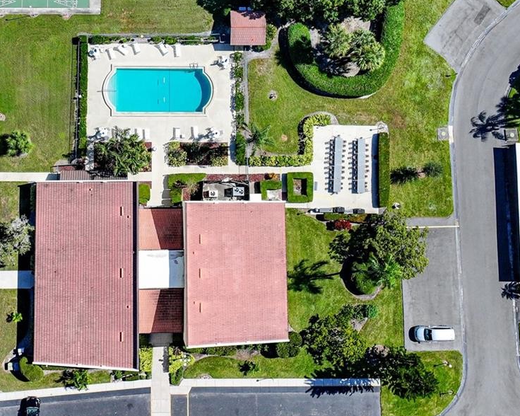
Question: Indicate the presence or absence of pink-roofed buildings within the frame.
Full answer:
Yes, a pink-roofed building appears in the view.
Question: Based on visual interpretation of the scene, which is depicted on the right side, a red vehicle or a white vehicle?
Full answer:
You can see a white vehicle on the right side.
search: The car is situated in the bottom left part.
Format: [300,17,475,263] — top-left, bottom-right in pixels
[21,393,38,416]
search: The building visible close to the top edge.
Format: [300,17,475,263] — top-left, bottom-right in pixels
[230,7,266,45]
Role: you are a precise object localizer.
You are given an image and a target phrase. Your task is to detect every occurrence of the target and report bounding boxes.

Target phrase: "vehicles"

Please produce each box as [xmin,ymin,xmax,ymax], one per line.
[21,393,38,416]
[415,327,455,345]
